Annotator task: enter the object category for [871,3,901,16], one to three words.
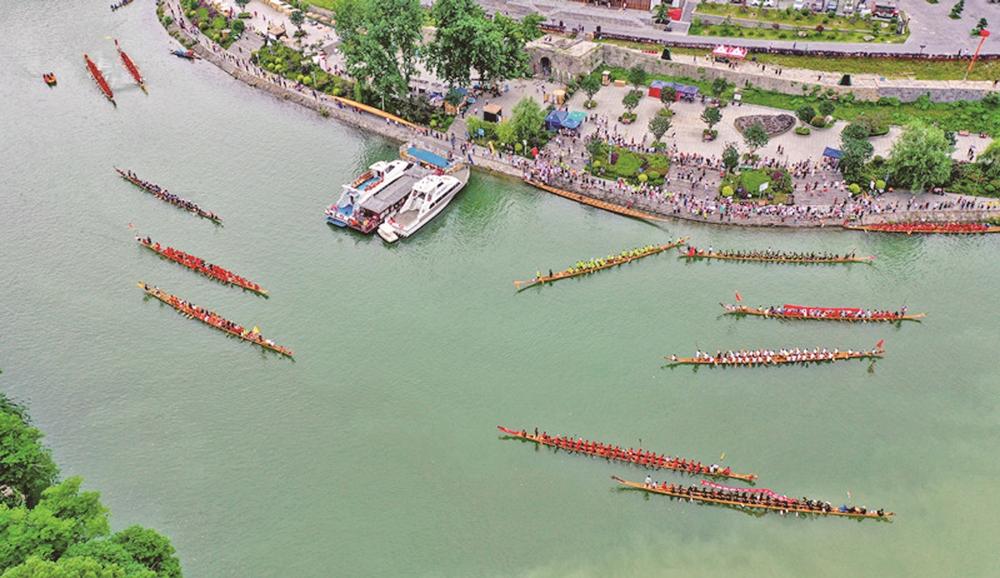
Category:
vehicle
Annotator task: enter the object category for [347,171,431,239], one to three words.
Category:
vessel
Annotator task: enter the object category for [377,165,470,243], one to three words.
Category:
boat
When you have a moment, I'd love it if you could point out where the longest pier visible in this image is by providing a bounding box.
[399,144,466,180]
